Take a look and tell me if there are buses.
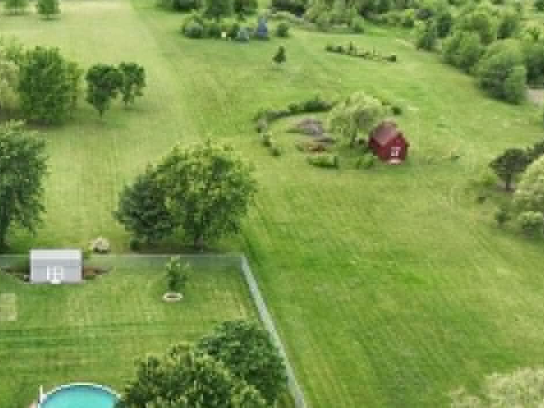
No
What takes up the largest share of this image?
grass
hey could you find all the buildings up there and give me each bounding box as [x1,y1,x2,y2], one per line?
[30,248,84,287]
[370,123,412,163]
